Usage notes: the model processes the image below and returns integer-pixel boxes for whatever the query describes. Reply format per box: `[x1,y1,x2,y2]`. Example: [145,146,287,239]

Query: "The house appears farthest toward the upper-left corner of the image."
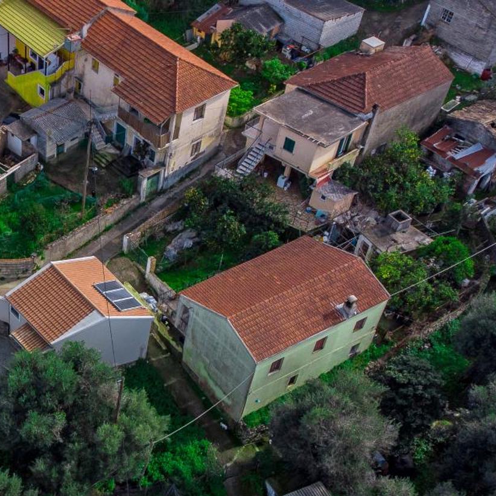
[0,0,106,110]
